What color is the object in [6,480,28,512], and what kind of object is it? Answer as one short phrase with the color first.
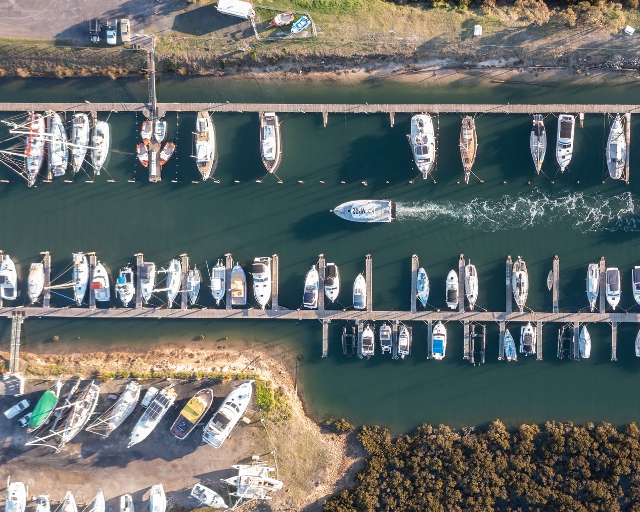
white boat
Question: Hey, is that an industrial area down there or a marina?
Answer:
marina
